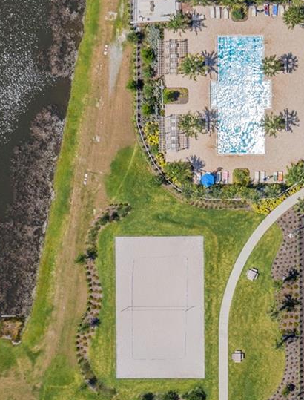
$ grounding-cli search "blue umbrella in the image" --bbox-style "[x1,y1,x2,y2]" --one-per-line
[201,172,216,187]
